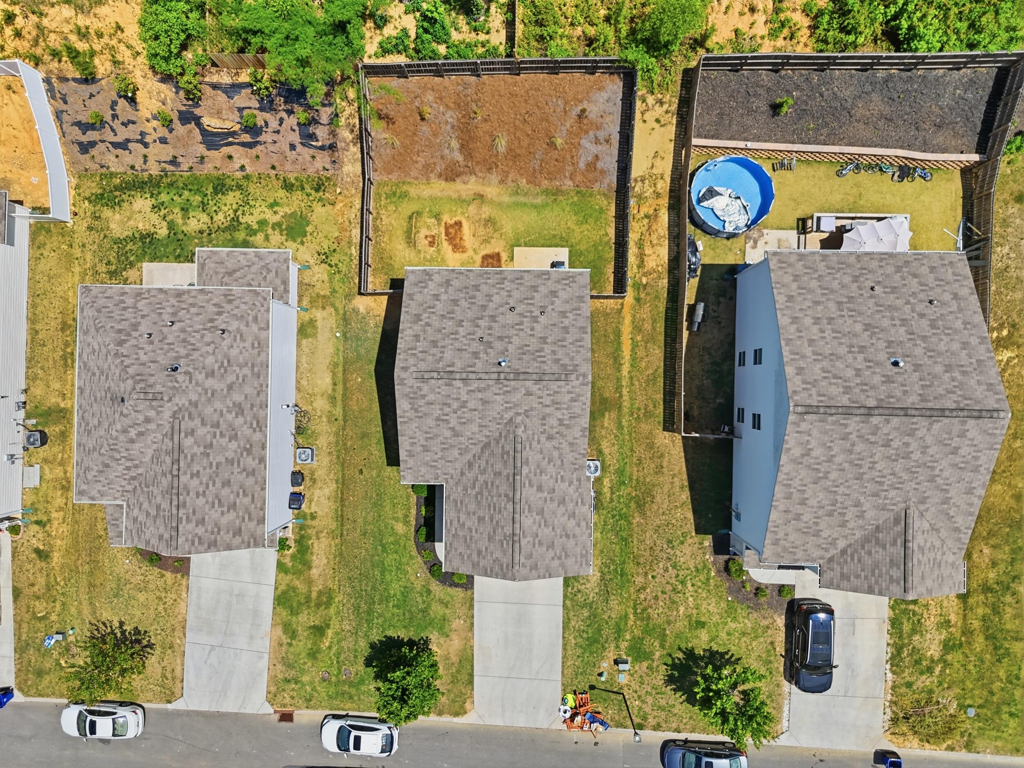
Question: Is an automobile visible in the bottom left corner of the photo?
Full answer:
Yes, you'll find an automobile in the bottom left corner of the photo.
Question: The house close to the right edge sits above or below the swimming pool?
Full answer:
It's below the swimming pool that the house close to the right edge shows up.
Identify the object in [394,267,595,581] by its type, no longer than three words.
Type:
house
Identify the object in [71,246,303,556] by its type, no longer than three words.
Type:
house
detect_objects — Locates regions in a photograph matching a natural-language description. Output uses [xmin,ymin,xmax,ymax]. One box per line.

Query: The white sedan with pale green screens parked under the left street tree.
[62,701,148,745]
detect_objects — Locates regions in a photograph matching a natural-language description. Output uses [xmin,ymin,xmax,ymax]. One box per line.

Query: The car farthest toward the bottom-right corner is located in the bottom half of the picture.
[791,596,840,691]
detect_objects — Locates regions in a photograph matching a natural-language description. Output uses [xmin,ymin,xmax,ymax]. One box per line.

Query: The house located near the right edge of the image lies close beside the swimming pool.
[729,249,1010,599]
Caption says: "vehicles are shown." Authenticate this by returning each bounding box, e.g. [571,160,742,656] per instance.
[661,739,748,768]
[791,596,840,691]
[321,713,400,760]
[62,701,148,745]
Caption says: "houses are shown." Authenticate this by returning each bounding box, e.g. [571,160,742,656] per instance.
[0,188,30,545]
[729,249,1010,599]
[71,246,303,556]
[394,267,595,581]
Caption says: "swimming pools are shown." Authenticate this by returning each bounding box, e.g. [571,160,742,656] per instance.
[688,153,775,241]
